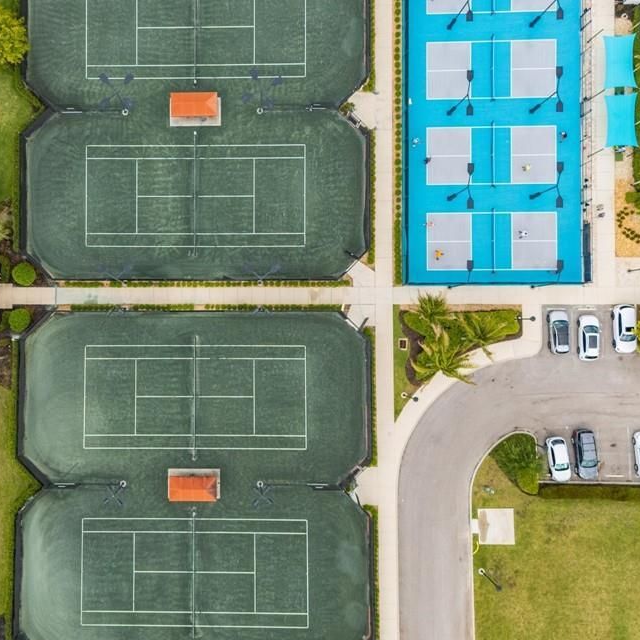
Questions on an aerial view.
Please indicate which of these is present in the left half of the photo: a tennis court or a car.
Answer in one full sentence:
Visible in the left half of the photo is a tennis court.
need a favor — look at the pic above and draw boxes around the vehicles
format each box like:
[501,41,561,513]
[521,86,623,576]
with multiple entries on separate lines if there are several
[544,436,570,480]
[631,431,640,477]
[545,310,571,353]
[571,430,598,477]
[610,306,636,352]
[575,316,600,359]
